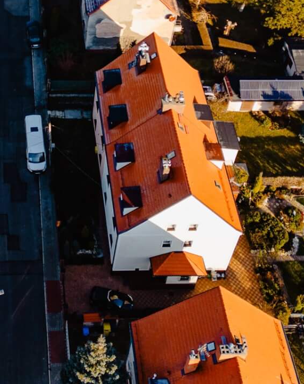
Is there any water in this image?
No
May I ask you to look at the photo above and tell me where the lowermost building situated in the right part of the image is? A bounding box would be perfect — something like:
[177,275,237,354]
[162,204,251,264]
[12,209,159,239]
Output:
[128,285,300,384]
